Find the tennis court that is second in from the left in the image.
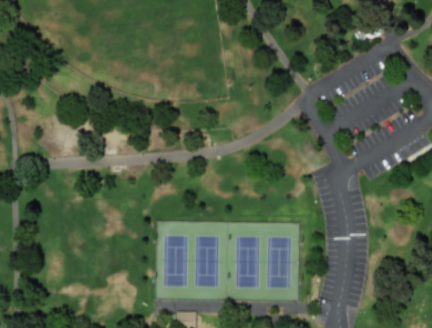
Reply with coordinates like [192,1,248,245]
[192,222,228,300]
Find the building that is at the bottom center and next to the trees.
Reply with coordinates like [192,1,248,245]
[176,312,198,328]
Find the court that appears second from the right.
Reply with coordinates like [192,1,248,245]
[228,222,264,300]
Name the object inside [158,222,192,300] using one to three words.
tennis court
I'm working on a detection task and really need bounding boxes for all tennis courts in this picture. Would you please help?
[228,222,264,300]
[264,222,300,300]
[192,222,228,300]
[158,222,192,300]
